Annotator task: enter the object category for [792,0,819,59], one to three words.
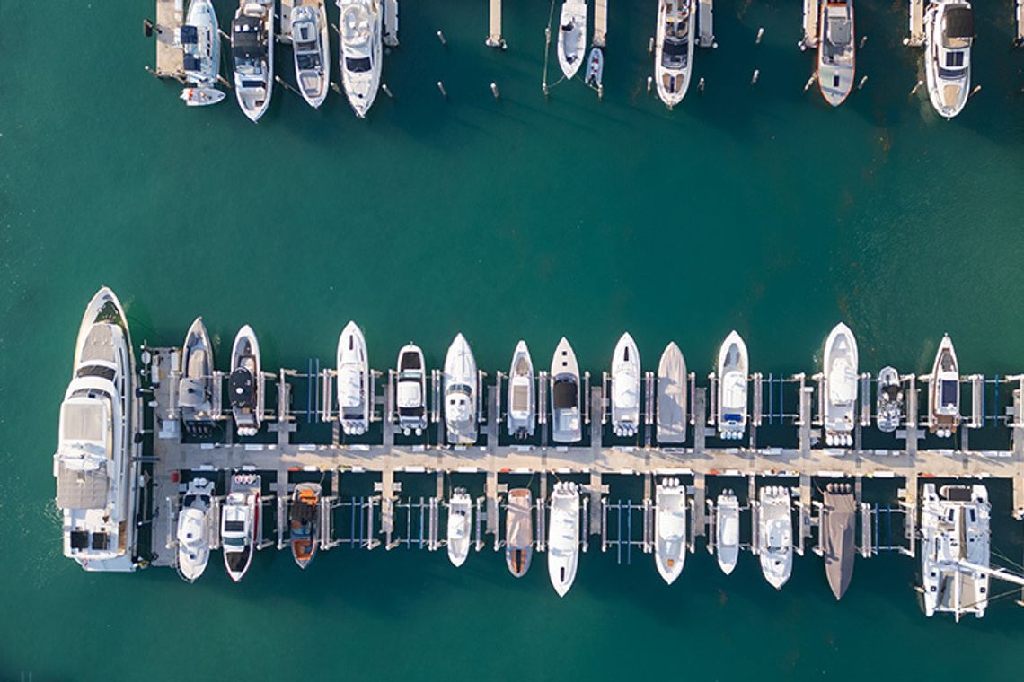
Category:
pier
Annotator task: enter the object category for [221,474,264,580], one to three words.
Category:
boat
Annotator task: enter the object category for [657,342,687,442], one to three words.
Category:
boat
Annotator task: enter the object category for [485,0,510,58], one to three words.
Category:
pier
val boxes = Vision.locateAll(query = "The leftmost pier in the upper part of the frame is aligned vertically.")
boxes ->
[155,0,189,77]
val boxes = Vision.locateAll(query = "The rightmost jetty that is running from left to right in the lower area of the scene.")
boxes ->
[151,346,1024,567]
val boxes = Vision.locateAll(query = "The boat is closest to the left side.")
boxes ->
[54,285,148,571]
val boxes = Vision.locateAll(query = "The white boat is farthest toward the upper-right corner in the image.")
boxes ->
[923,0,974,120]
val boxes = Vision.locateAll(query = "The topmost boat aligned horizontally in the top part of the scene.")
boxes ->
[182,88,227,106]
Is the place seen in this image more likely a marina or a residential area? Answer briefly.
marina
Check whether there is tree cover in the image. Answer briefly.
No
